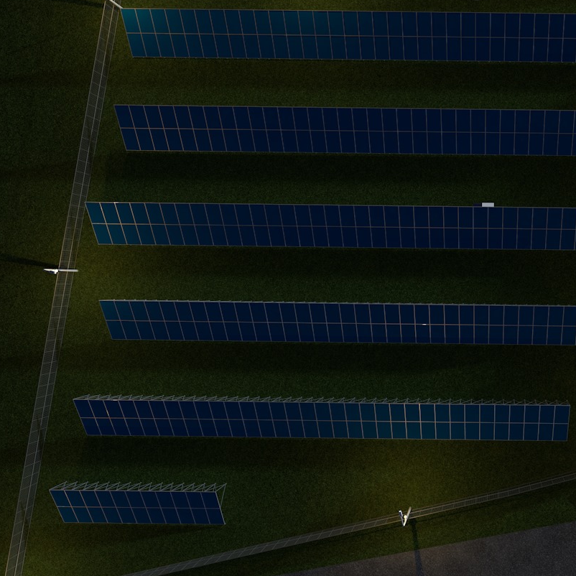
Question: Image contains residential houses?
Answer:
No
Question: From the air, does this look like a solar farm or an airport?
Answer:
solar farm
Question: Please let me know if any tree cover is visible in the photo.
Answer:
No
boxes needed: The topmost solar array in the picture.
[122,9,576,62]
